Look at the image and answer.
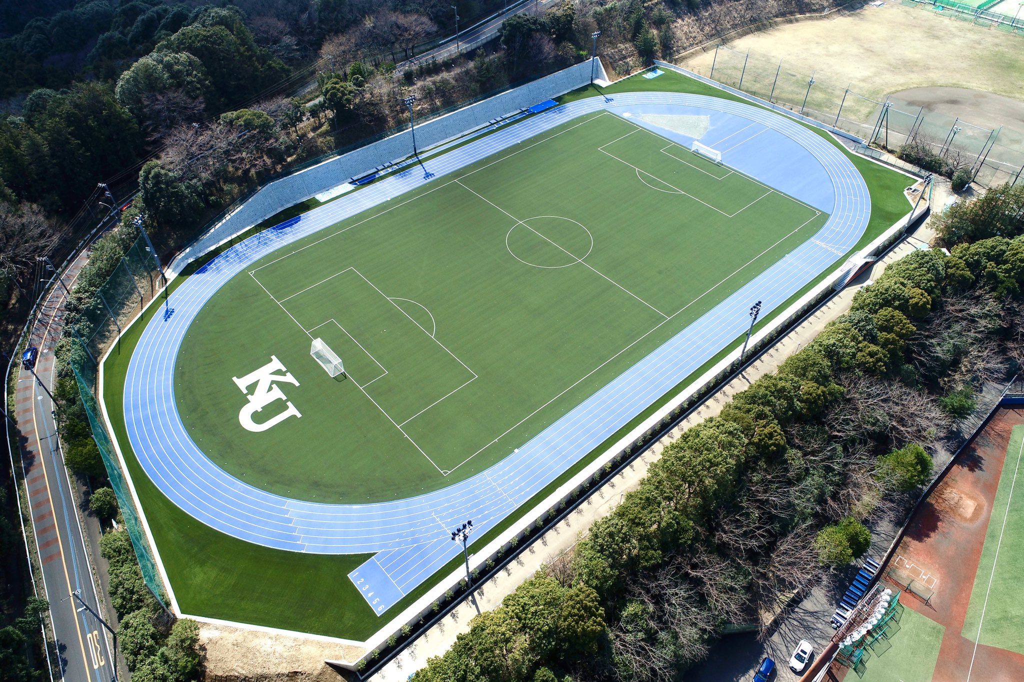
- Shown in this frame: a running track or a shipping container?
running track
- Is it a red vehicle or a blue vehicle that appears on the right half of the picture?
blue vehicle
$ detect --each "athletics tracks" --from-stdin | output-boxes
[125,92,870,616]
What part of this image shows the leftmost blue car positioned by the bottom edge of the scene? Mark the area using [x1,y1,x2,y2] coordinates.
[753,655,775,682]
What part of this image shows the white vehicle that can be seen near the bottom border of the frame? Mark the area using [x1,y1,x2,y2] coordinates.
[789,638,813,673]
